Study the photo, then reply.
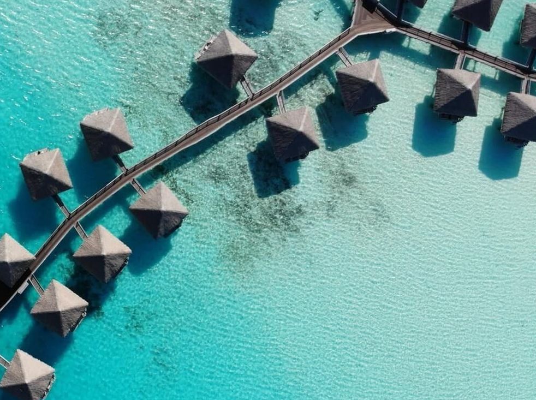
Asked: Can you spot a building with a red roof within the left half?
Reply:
No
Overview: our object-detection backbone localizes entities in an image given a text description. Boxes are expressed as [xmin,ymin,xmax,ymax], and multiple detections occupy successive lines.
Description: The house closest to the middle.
[266,106,320,163]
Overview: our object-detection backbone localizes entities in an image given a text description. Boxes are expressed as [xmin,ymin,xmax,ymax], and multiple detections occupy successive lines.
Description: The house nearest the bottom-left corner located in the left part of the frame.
[0,349,56,400]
